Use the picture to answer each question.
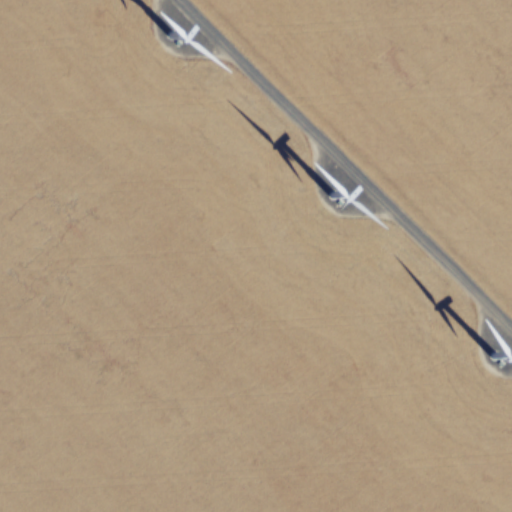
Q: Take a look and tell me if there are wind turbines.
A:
Yes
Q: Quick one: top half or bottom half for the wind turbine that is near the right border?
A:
bottom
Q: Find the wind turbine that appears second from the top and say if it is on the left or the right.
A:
right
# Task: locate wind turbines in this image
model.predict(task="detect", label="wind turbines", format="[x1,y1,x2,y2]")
[160,8,232,72]
[488,320,512,364]
[316,161,390,230]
